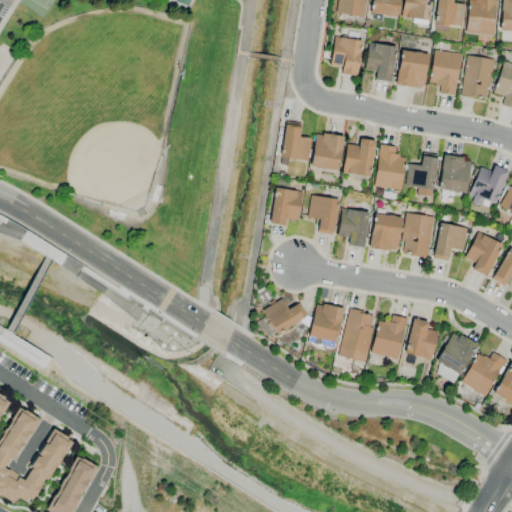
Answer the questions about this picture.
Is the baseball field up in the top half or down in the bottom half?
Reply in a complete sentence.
The top half of the photo is where the baseball field is.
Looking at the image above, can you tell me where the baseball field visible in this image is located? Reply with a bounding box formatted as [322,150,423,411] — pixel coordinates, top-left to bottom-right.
[0,7,190,222]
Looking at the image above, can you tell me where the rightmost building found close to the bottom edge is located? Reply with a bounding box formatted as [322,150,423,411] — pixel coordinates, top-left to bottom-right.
[40,456,98,512]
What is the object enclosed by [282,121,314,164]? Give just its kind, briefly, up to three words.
house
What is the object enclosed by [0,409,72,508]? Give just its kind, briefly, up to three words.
building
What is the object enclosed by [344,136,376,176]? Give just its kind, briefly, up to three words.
house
